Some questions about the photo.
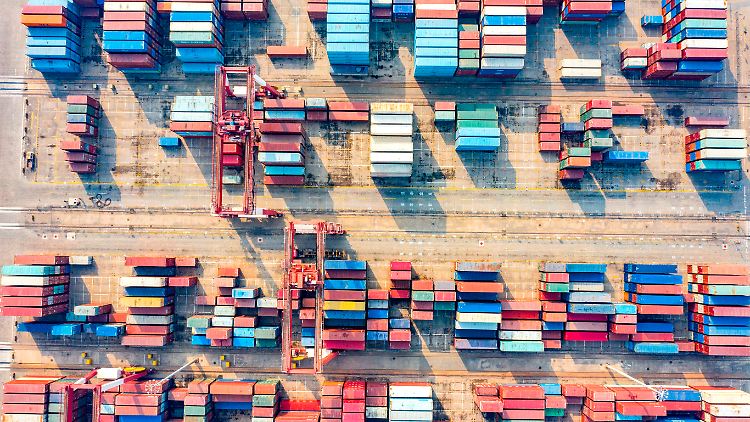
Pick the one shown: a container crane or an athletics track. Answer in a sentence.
I can see a container crane in this picture.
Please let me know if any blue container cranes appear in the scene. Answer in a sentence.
No, I find no blue container crane anywhere in the image.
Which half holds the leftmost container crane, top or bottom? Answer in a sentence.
The bottom half of the photo is where the leftmost container crane is.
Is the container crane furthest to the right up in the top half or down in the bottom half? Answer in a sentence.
You can find the container crane furthest to the right in the bottom half.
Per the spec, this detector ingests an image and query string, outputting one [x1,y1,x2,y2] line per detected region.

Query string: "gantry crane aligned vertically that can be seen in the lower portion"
[282,224,352,376]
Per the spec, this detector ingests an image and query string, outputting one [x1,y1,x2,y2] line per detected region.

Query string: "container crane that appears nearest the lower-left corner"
[65,361,162,422]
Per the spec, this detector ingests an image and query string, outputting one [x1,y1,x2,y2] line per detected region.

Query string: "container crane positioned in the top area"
[211,65,292,220]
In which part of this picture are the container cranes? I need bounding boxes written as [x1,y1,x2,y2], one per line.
[65,361,162,422]
[282,224,352,376]
[211,65,292,220]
